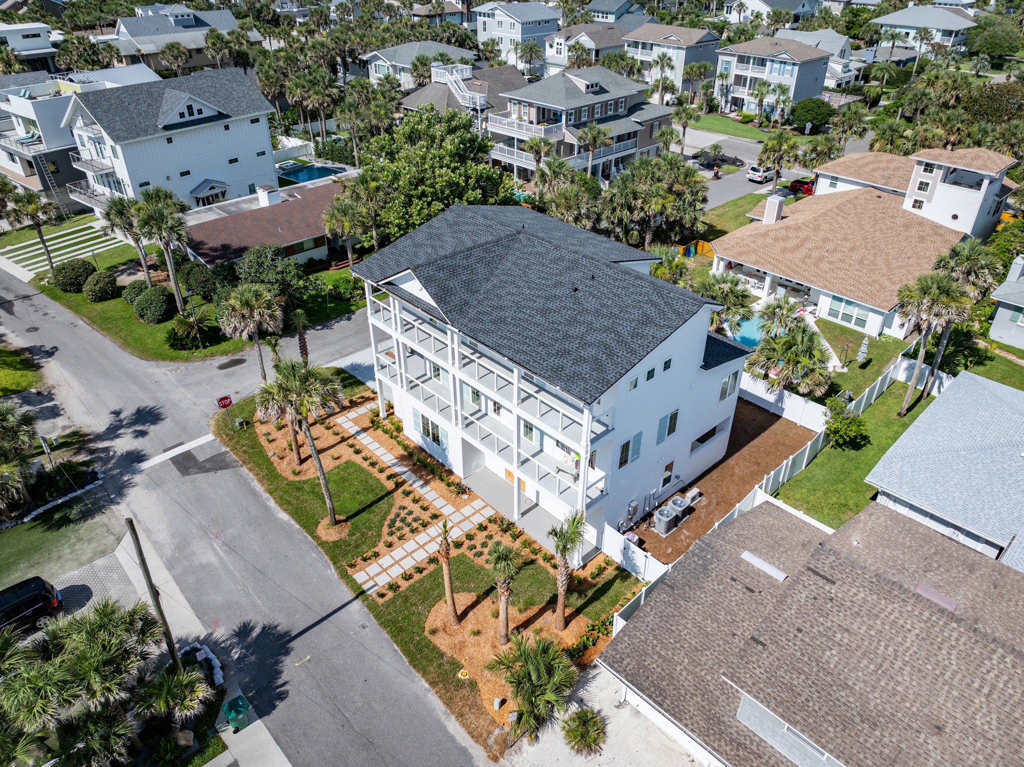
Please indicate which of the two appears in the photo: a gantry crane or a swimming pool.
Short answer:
swimming pool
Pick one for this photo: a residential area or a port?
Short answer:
residential area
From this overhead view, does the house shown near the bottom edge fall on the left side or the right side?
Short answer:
right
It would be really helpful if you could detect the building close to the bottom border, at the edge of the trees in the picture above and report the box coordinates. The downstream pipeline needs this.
[588,482,1024,767]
